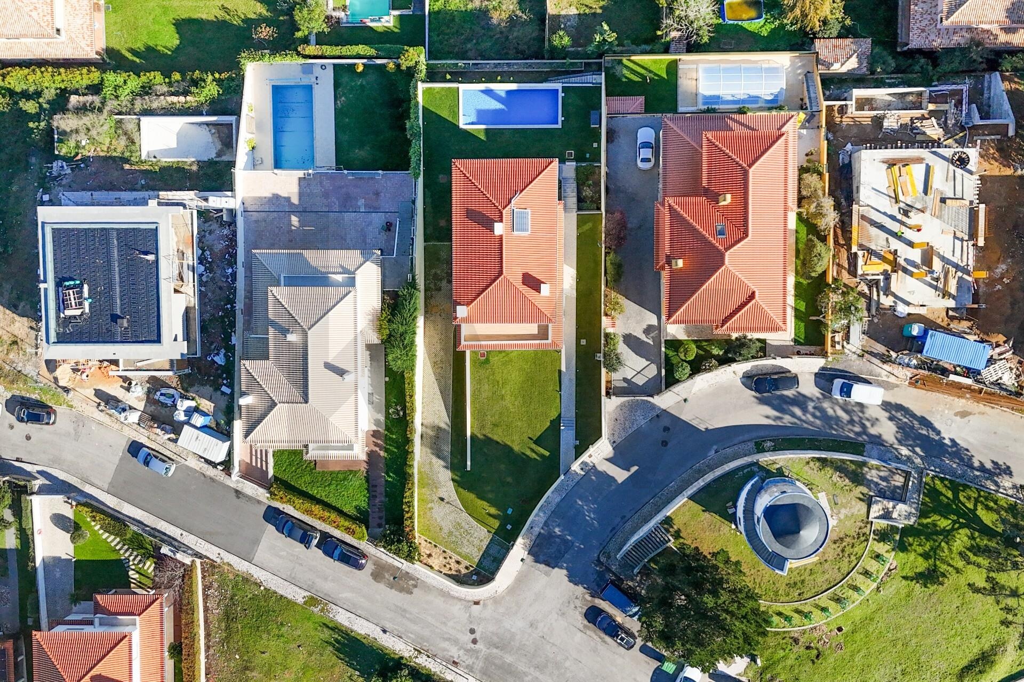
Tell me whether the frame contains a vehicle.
Yes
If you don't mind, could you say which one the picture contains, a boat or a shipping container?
shipping container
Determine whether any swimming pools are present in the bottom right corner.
No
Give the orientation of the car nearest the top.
from top to bottom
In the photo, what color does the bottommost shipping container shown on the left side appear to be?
white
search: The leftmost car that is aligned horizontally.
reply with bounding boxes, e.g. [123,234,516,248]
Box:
[16,403,61,425]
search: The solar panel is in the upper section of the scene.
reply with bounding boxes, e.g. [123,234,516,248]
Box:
[511,192,531,234]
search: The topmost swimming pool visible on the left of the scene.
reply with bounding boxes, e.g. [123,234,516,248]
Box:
[344,0,393,26]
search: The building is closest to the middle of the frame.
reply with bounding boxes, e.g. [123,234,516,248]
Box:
[451,157,564,351]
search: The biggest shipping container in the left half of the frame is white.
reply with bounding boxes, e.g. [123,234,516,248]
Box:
[177,422,234,462]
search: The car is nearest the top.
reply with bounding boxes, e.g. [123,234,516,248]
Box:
[635,128,657,171]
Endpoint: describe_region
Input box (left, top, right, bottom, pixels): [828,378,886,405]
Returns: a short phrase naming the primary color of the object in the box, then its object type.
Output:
white vehicle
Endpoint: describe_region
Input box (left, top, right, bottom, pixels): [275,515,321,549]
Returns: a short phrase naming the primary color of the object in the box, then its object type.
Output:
blue car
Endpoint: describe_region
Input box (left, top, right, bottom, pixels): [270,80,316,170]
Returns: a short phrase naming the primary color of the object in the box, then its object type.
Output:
blue swimming pool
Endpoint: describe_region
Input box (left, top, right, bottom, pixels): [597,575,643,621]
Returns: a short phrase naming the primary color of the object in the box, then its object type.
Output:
blue van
